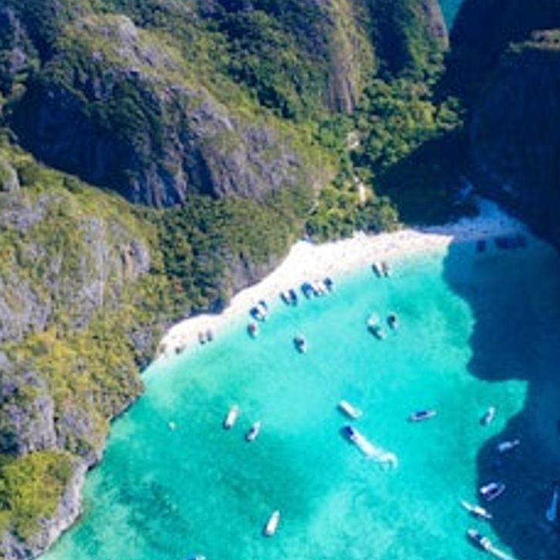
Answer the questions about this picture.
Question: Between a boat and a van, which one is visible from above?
boat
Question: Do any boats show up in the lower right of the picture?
Yes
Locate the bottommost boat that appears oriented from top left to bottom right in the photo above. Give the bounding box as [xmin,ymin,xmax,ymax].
[468,526,492,548]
